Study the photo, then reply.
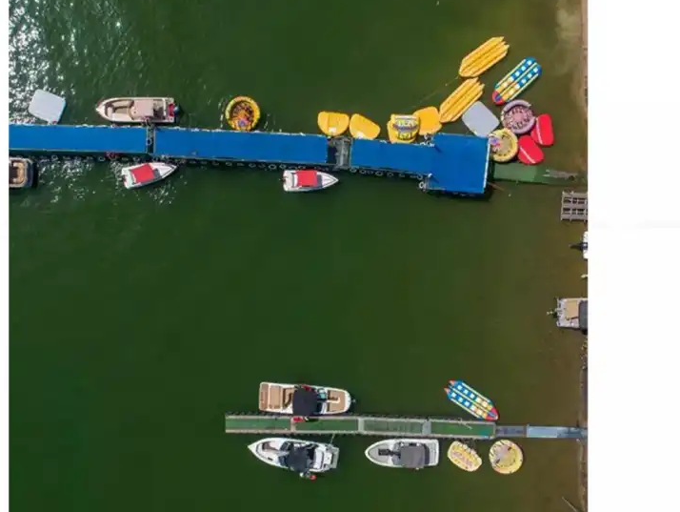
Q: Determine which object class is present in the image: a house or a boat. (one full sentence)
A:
I can see a boat in this picture.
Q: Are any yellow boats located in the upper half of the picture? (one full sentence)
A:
Yes, a yellow boat shows up in the upper half of the picture.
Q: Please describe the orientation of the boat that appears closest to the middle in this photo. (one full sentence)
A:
The boat that appears closest to the middle has been laid out from side to side relative to the frame.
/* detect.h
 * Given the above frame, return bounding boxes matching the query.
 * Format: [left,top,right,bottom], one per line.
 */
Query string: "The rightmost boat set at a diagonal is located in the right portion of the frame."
[492,55,546,107]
